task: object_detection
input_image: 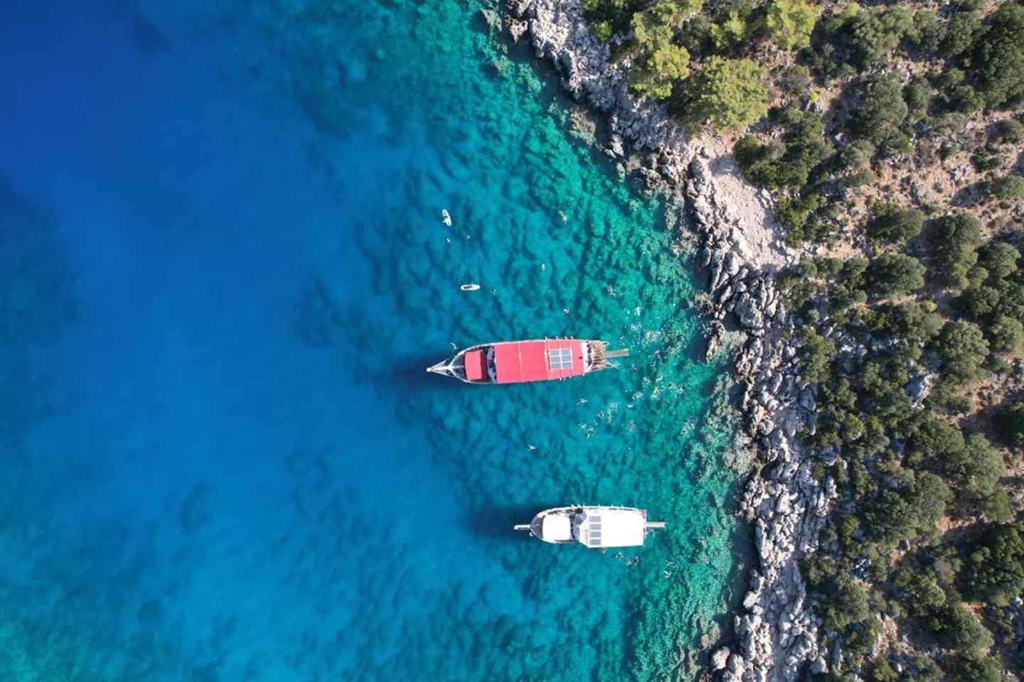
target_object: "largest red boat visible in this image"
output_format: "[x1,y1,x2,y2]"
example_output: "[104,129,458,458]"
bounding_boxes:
[426,338,630,384]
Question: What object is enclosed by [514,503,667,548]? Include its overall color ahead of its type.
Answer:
white boat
